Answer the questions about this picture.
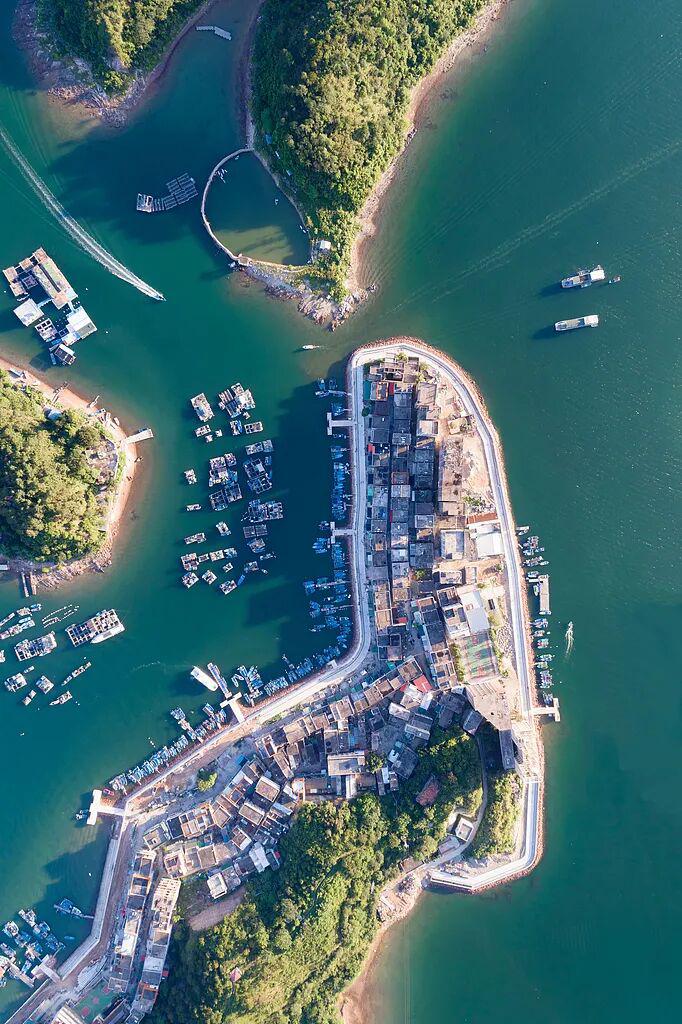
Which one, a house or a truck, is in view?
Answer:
house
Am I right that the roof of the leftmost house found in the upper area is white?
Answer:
Yes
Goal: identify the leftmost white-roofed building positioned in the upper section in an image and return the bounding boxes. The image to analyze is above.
[11,298,43,326]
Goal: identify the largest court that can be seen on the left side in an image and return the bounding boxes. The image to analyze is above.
[79,979,120,1022]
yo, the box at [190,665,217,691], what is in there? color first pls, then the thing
white ship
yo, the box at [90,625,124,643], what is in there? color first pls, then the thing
white boat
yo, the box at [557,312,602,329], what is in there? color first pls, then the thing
white ship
